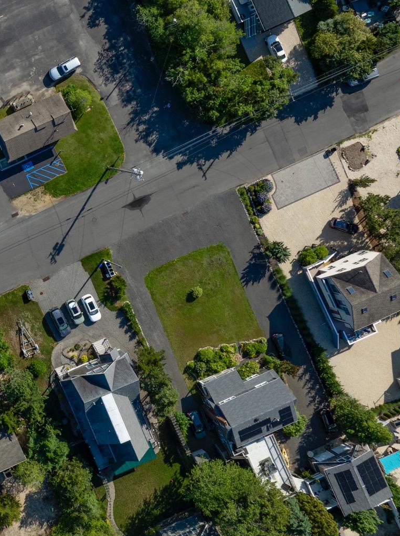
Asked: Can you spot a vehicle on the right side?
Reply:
Yes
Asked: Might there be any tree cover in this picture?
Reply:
Yes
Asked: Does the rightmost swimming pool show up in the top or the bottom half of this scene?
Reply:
bottom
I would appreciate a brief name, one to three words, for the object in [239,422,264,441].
solar panel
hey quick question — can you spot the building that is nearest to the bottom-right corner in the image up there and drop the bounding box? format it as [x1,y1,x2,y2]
[289,436,392,515]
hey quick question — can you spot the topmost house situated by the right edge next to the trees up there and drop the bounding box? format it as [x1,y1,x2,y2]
[294,251,400,350]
